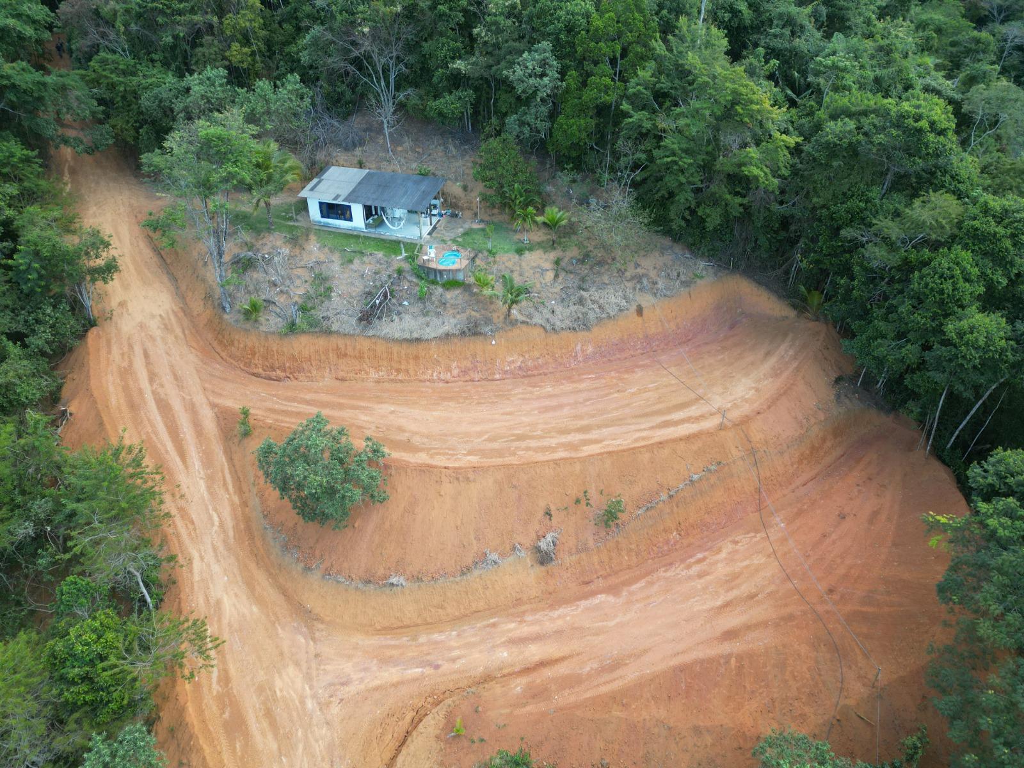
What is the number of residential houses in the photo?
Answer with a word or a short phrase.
1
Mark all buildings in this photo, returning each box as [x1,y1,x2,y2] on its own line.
[301,165,446,239]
